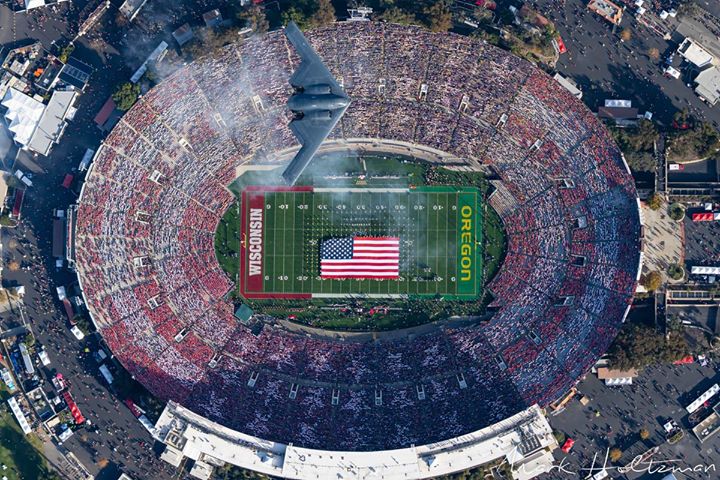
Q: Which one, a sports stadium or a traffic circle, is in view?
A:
sports stadium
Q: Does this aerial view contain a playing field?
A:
Yes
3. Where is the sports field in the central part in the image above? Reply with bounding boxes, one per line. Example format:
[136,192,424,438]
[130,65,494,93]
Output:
[241,187,482,298]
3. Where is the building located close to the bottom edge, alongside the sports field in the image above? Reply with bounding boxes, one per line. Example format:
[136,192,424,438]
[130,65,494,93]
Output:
[156,399,559,480]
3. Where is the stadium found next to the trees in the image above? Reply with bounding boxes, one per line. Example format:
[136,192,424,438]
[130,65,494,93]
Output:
[73,19,646,448]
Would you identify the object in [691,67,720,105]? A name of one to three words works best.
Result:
building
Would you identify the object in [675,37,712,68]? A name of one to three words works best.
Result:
building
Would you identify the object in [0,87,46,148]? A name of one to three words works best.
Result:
tent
